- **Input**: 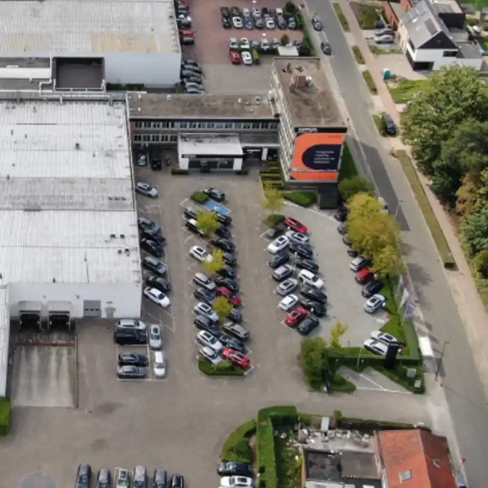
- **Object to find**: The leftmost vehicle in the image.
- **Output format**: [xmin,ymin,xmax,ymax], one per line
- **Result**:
[75,464,91,488]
